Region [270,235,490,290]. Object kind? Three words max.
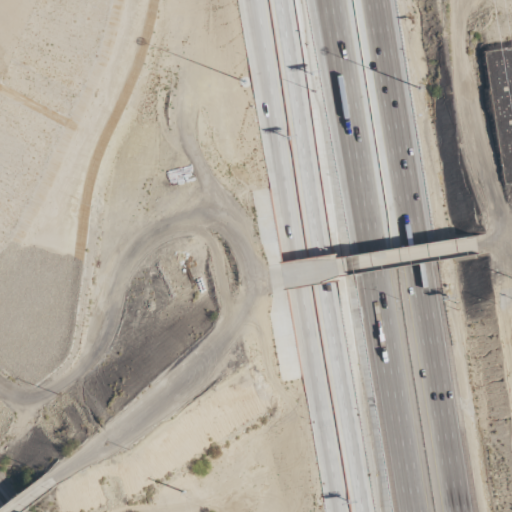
overpass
